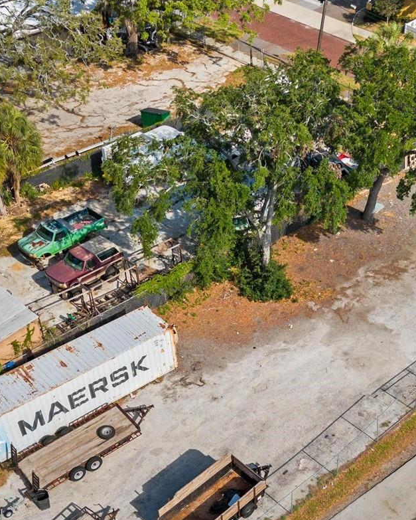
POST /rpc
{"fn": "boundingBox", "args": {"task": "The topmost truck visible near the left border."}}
[20,209,107,267]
